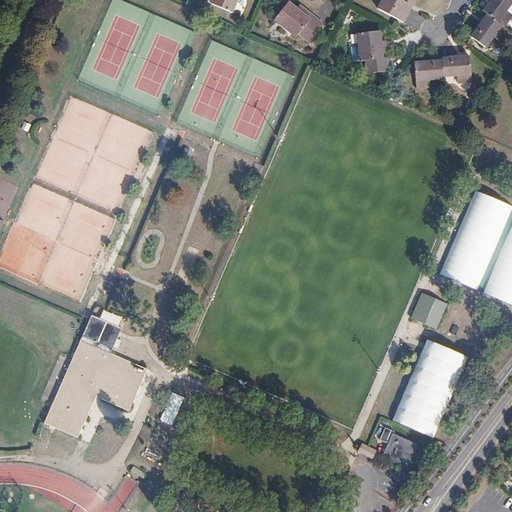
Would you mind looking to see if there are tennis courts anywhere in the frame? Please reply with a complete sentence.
Yes, there is a tennis court in the image.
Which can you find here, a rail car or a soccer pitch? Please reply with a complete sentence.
Visible in the photo is a soccer pitch.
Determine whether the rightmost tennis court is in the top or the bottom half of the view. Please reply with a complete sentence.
Seen from above, the rightmost tennis court lies in the top half of the view.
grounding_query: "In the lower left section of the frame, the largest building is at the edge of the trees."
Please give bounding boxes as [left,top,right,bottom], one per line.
[44,310,146,438]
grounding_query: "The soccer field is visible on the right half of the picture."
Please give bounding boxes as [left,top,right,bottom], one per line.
[196,67,456,430]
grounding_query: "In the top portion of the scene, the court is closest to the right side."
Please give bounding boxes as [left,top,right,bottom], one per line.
[219,58,294,158]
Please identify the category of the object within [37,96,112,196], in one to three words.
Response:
tennis court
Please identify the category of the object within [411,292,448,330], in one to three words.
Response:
building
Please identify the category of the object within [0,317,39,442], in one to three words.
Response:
sports field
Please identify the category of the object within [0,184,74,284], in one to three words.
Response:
tennis court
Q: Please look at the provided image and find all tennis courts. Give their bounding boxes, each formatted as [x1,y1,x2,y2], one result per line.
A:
[37,96,112,196]
[118,14,194,114]
[78,114,153,214]
[0,184,74,284]
[178,40,253,140]
[219,58,294,158]
[78,0,153,97]
[40,202,115,301]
